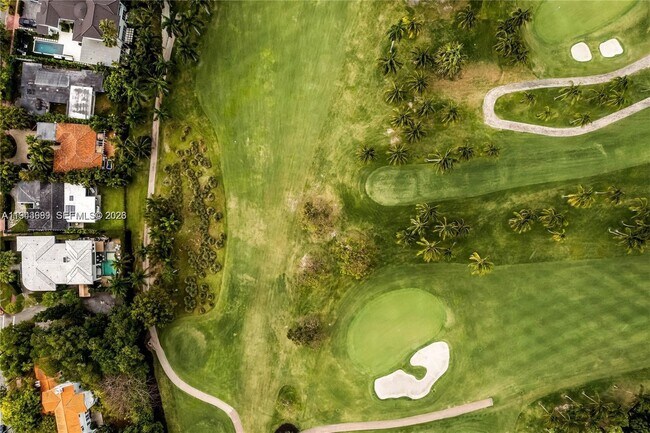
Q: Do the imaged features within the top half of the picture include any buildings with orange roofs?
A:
Yes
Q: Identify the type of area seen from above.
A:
golf course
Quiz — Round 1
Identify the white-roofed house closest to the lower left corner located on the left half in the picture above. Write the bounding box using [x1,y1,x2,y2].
[17,236,102,297]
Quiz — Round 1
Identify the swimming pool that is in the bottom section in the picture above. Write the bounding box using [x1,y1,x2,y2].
[101,251,116,276]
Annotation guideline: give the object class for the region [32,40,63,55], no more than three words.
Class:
swimming pool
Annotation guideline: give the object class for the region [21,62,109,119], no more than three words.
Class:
house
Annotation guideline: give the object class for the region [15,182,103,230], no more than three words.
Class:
house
